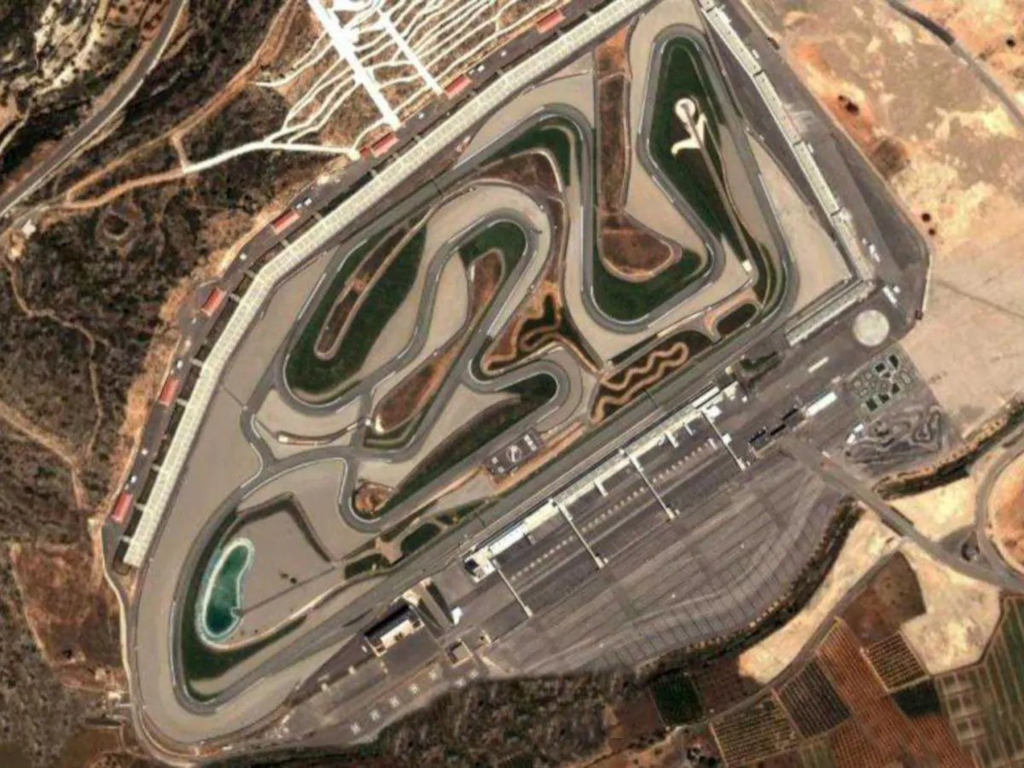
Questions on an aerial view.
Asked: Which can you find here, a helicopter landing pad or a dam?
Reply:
helicopter landing pad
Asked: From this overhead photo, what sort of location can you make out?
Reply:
sports ground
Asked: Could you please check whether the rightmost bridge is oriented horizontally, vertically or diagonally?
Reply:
diagonally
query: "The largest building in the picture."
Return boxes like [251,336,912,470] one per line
[478,383,739,558]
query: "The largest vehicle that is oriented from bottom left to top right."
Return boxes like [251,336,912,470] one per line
[808,356,828,372]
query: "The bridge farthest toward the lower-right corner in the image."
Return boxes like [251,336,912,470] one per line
[861,487,909,531]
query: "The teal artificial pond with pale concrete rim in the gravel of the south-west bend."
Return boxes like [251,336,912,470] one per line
[200,540,253,638]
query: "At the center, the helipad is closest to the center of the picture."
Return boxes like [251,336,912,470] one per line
[485,426,545,477]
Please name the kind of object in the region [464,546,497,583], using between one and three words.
building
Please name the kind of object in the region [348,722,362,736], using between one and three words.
helipad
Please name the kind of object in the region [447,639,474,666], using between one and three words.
building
